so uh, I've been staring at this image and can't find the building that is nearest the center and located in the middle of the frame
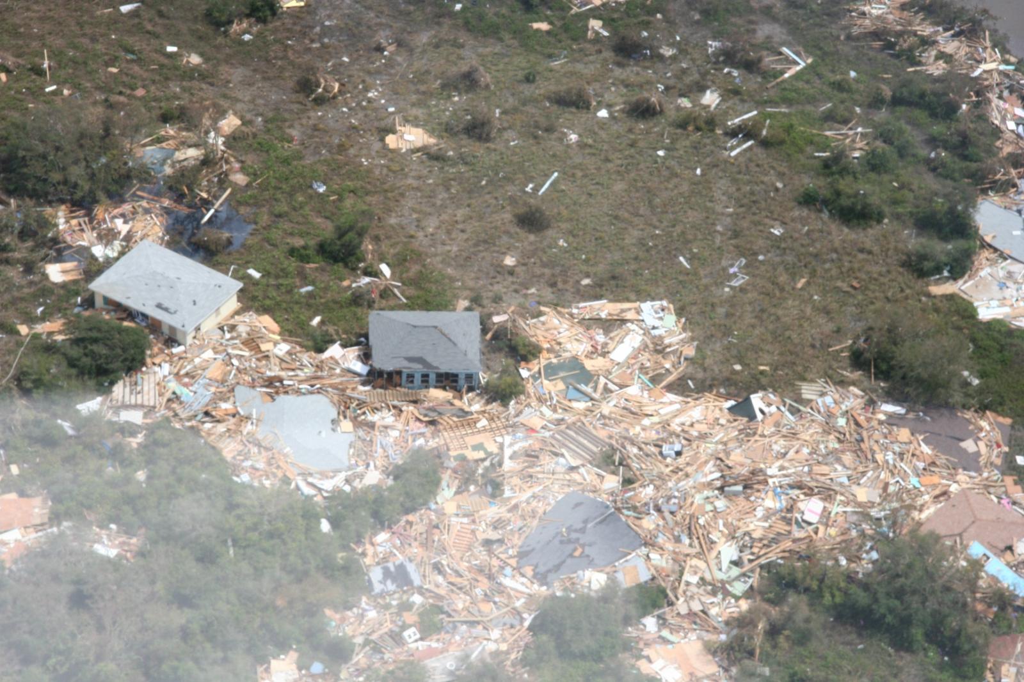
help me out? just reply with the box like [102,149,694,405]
[366,311,481,391]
